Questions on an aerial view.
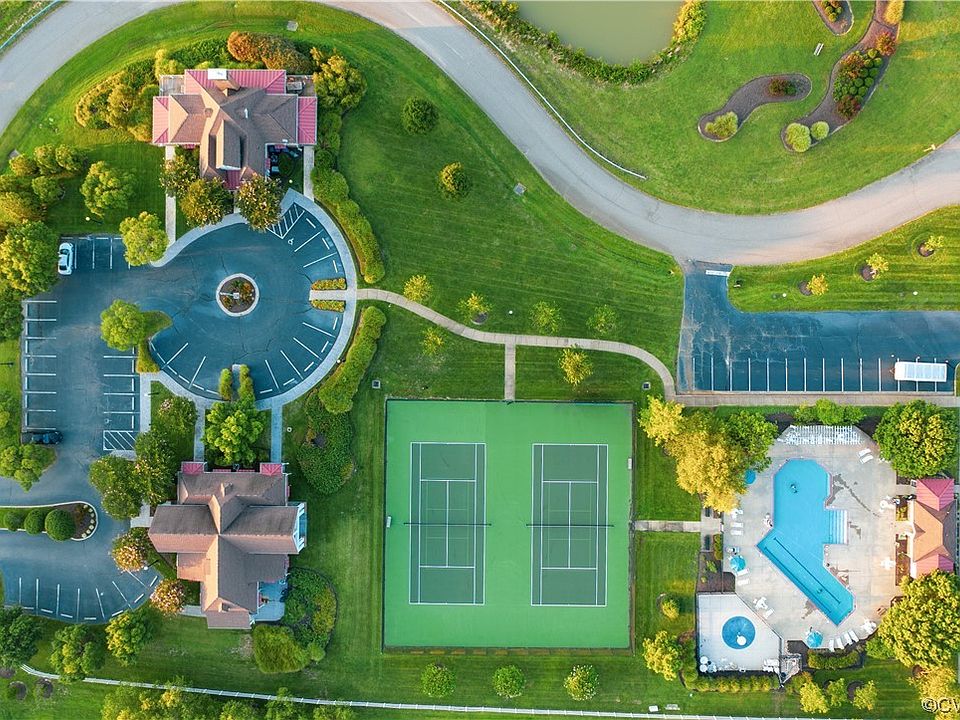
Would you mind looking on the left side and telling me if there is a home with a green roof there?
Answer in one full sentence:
No, the scene shows no home with a green roof on the left side.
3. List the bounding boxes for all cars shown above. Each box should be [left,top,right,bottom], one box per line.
[59,243,77,275]
[31,430,65,445]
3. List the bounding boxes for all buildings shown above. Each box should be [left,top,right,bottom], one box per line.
[152,69,320,193]
[908,478,956,581]
[146,461,308,631]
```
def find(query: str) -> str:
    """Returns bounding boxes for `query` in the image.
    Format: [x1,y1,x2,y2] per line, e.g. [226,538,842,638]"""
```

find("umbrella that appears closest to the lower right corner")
[804,629,821,646]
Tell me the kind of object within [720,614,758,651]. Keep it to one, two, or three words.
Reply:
swimming pool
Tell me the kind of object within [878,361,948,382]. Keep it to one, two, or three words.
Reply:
trailer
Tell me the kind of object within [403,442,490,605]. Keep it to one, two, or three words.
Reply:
tennis court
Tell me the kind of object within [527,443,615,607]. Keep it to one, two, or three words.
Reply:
tennis court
